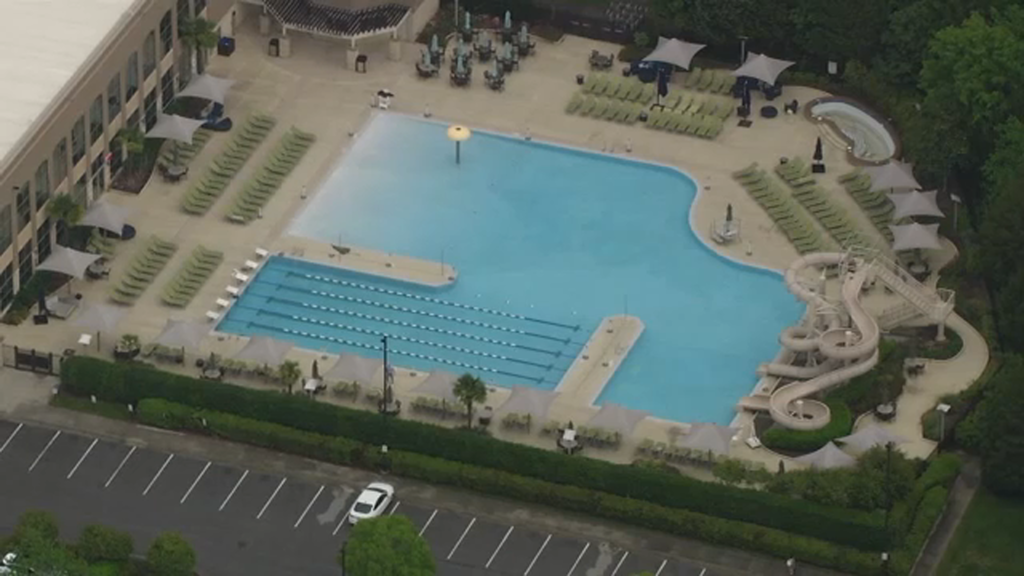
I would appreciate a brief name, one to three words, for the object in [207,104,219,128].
umbrella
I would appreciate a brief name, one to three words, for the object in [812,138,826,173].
umbrella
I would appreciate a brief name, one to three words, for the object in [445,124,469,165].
fountain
